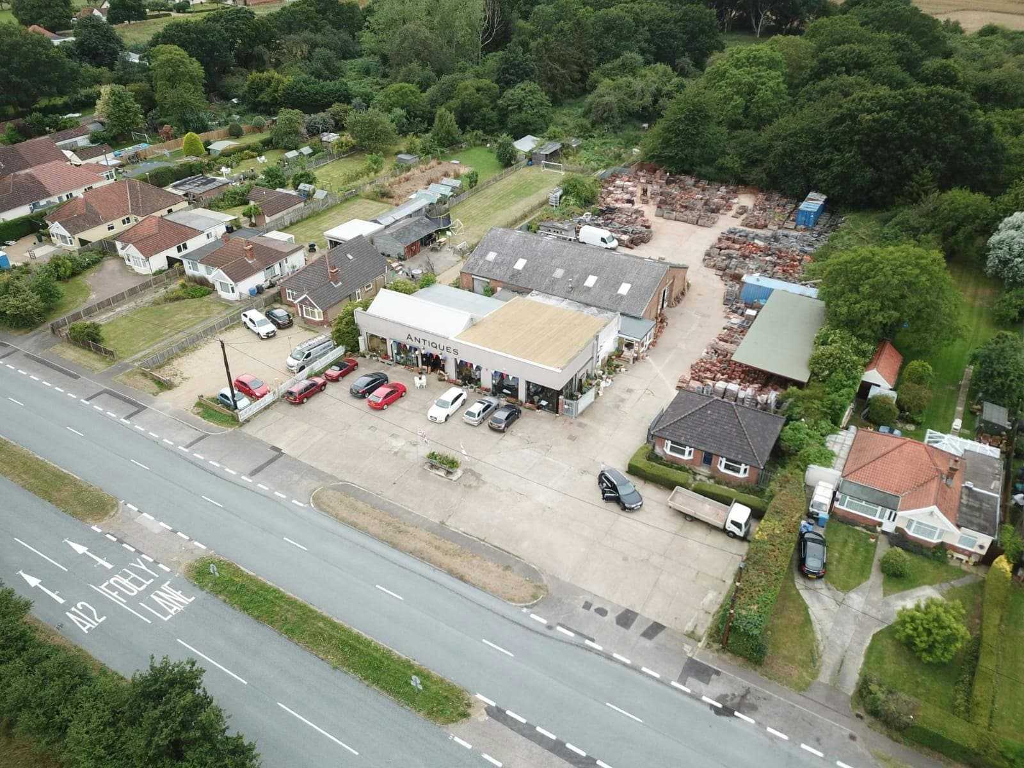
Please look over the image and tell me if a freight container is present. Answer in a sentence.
Yes, a freight container is visible in the scene.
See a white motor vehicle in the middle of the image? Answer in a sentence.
Yes, you'll find a white motor vehicle in the middle of the image.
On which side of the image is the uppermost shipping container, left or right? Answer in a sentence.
It is on the right.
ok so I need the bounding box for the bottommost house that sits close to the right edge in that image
[822,423,1005,562]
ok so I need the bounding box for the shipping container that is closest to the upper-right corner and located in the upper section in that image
[796,193,827,229]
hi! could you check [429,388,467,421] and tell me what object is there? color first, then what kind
white car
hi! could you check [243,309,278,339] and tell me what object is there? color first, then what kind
white truck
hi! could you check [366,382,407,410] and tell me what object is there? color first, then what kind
red car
